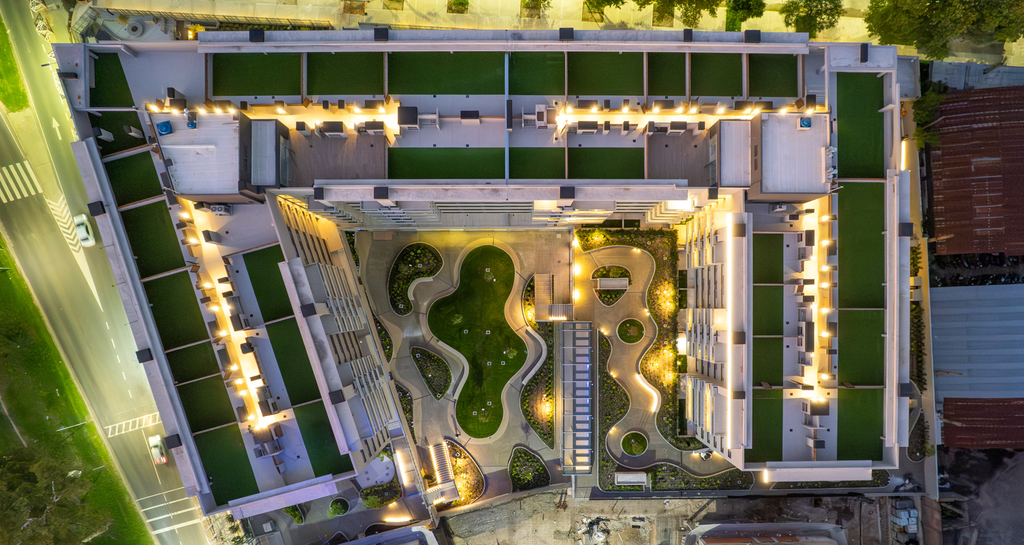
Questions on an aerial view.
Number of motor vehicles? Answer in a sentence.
I count 2 motor vehicles.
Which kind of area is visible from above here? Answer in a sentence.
The picture captures an industrial area.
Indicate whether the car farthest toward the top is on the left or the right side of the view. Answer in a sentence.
The car farthest toward the top sits on the left side.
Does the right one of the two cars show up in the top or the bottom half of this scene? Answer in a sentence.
Seen from above, the right one of the two cars lies in the bottom half of the view.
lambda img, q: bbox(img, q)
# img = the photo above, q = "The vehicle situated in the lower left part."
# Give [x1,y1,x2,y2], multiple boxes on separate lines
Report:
[149,433,170,466]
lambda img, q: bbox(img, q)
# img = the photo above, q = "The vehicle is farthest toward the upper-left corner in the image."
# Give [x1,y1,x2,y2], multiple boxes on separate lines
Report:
[76,214,98,247]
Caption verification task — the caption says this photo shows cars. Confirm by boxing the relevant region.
[76,214,98,247]
[149,433,170,466]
